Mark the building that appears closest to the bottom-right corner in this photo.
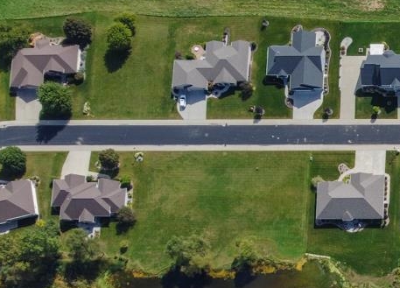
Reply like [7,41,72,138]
[316,172,385,221]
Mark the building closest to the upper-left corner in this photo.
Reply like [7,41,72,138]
[11,39,82,89]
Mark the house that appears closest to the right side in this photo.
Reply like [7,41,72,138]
[357,50,400,90]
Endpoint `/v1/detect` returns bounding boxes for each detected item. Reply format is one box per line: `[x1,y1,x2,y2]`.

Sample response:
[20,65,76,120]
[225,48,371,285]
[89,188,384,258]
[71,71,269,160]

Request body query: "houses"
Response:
[0,168,42,219]
[173,41,254,90]
[11,39,82,89]
[357,50,400,90]
[267,26,325,90]
[316,172,385,221]
[51,173,131,222]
